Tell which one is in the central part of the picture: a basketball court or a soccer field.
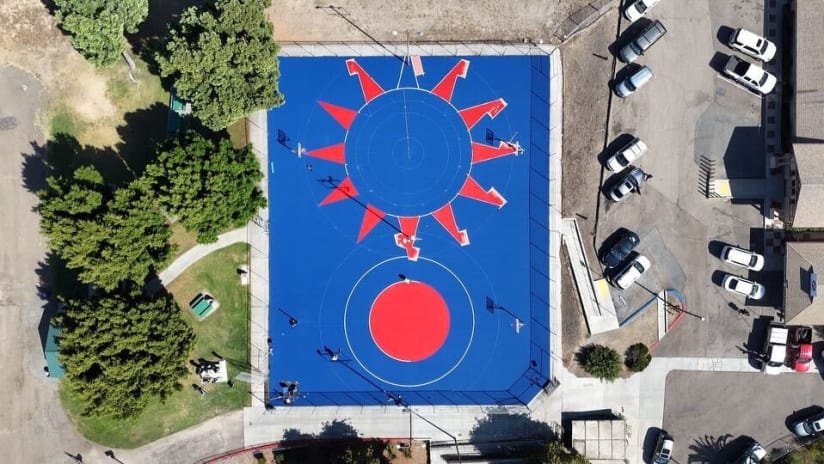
basketball court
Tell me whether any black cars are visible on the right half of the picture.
Yes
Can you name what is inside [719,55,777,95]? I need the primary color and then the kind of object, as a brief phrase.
white vehicle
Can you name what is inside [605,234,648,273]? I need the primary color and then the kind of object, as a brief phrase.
black car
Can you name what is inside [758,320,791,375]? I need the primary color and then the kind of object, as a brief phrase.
white vehicle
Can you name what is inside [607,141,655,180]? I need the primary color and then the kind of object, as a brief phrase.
white car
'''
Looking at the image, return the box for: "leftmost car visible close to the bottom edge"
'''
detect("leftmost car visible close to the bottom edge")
[649,432,680,464]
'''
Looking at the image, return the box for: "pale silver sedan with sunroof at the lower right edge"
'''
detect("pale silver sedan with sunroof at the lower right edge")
[790,408,824,438]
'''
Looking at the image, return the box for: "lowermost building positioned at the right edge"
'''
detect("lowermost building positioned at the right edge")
[778,242,824,324]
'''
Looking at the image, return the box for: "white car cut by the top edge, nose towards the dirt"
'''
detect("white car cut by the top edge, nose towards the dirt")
[623,0,666,23]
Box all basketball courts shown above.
[268,56,550,405]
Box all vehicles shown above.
[623,0,666,23]
[723,436,768,464]
[790,408,824,438]
[608,175,653,212]
[605,234,648,273]
[649,432,680,464]
[721,248,771,276]
[786,323,818,372]
[719,55,777,95]
[758,320,791,375]
[607,141,655,180]
[612,64,654,100]
[618,21,669,65]
[614,258,658,297]
[726,27,777,62]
